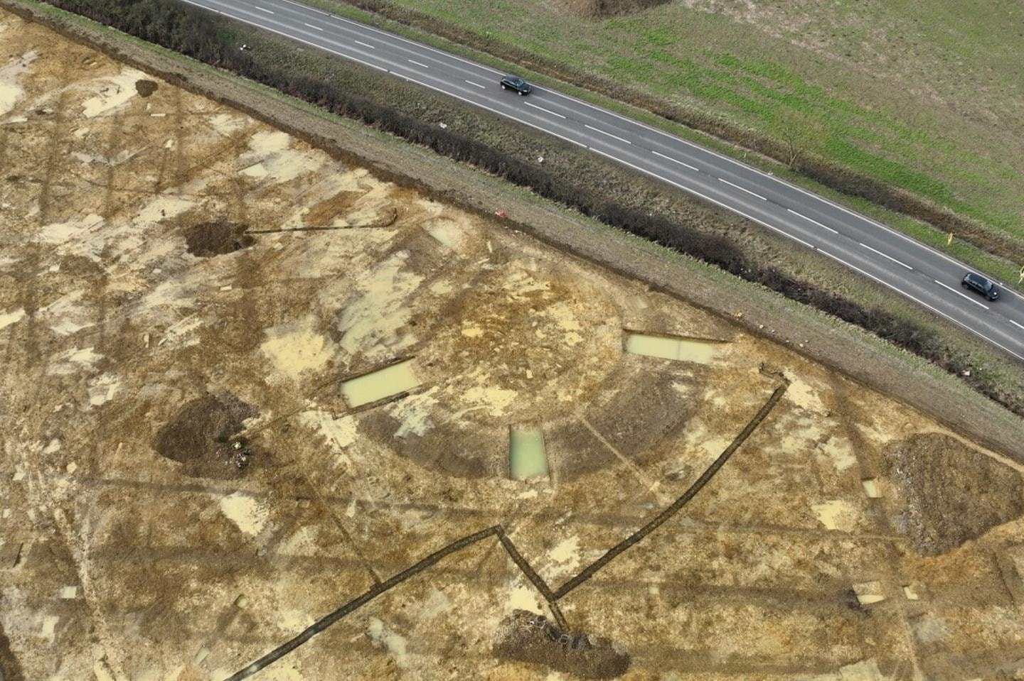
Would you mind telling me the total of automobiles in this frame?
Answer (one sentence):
My tally gives 2 automobiles in this view.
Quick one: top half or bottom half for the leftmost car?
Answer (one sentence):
It is in the top half that the leftmost car appears.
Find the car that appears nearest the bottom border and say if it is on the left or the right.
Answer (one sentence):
You can find the car that appears nearest the bottom border on the right side of the picture.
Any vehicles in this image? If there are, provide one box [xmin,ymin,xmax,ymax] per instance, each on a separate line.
[499,72,530,93]
[961,269,1005,300]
